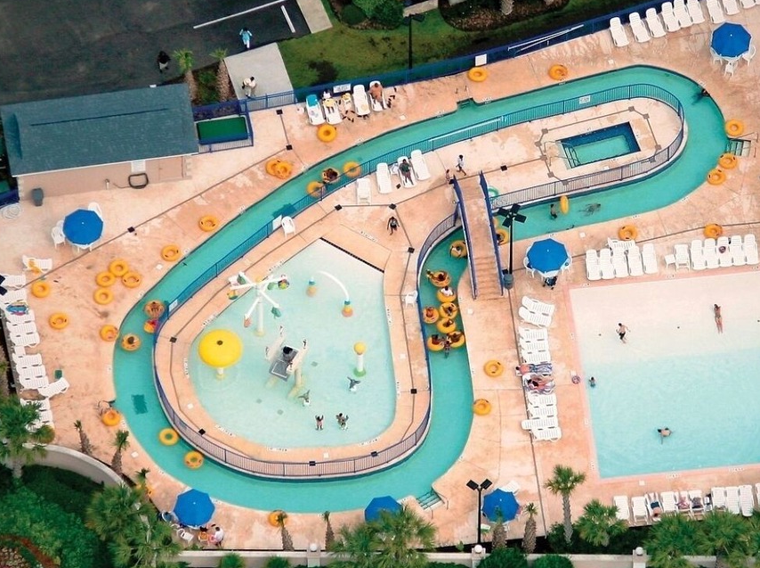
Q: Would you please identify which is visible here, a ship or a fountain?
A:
fountain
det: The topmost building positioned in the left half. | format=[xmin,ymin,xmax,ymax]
[0,84,198,200]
